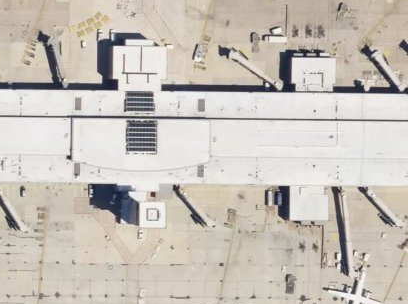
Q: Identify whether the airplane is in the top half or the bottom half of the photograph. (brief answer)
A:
bottom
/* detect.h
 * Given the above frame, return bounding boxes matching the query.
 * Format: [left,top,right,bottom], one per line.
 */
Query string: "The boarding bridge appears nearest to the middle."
[174,184,218,230]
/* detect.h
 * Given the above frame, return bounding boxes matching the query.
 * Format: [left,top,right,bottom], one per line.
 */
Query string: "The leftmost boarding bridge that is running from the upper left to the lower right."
[0,187,30,235]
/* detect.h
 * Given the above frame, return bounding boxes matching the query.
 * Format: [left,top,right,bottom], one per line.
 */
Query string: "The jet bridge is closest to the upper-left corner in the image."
[47,39,68,90]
